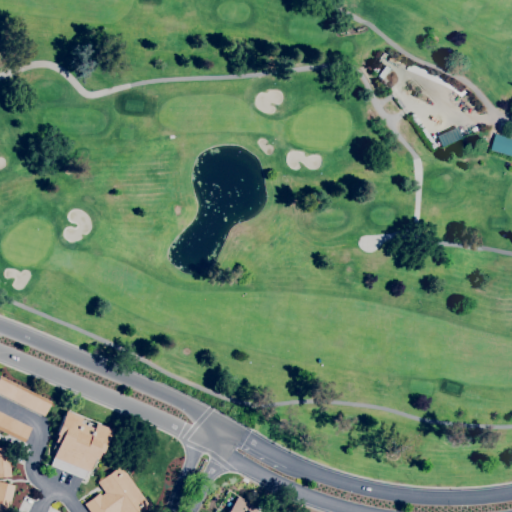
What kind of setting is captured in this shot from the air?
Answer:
golf course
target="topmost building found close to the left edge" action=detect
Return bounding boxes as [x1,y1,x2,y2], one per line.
[0,376,54,417]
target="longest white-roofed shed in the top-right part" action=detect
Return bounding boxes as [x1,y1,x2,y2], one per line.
[408,64,466,95]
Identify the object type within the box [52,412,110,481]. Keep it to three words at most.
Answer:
house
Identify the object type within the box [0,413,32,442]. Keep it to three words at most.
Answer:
building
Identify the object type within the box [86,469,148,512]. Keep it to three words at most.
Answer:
house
